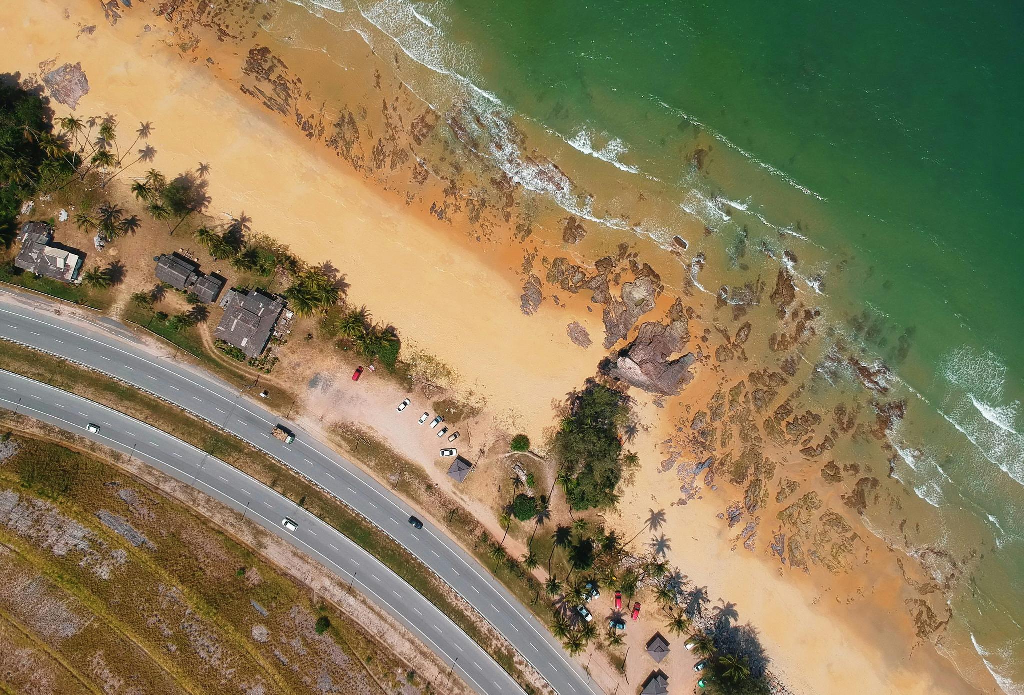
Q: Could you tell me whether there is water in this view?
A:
Yes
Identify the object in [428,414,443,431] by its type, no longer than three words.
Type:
car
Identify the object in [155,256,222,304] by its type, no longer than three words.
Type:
house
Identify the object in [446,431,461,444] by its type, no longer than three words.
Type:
vehicle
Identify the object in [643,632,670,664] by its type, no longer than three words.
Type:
building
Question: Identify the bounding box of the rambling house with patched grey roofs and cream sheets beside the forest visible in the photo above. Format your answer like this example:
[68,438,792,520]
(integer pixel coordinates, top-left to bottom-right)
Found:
[15,223,83,282]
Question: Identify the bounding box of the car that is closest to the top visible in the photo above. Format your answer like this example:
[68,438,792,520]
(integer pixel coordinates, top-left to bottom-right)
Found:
[350,365,364,382]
